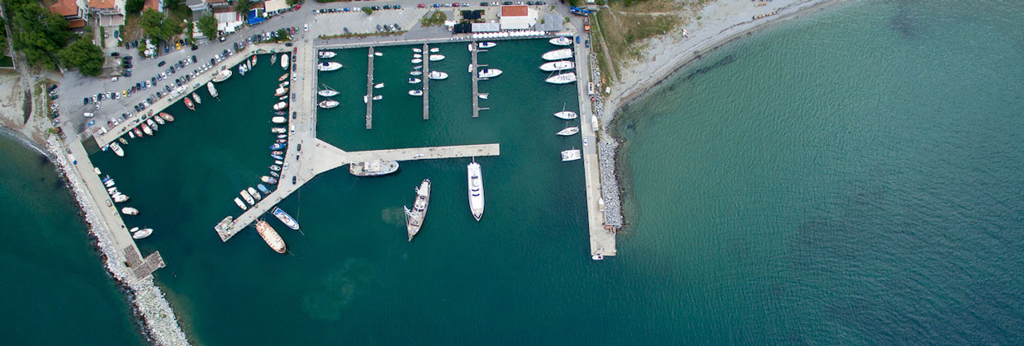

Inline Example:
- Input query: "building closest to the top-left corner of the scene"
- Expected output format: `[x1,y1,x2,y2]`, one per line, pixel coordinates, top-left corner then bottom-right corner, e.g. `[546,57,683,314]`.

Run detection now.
[51,0,93,30]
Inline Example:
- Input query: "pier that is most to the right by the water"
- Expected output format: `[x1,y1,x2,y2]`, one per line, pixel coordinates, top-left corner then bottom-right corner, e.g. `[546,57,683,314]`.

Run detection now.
[572,31,616,256]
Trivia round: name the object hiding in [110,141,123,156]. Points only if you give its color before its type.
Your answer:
white boat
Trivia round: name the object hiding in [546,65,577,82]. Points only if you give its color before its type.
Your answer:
white boat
